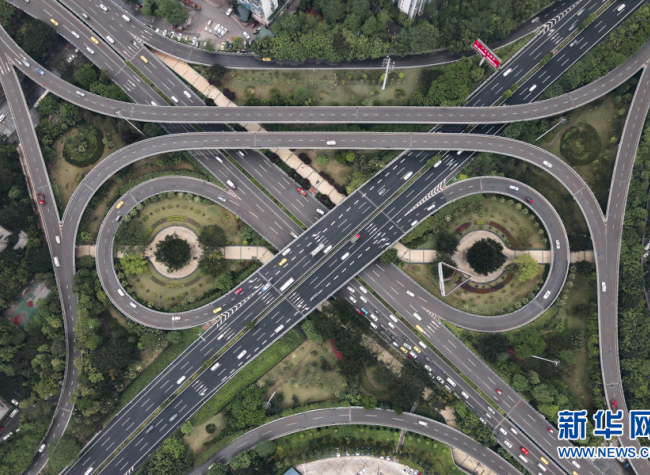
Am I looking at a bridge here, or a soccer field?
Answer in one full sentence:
There is a bridge in the scene.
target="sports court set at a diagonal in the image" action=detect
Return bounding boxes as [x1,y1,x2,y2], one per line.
[3,280,48,328]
